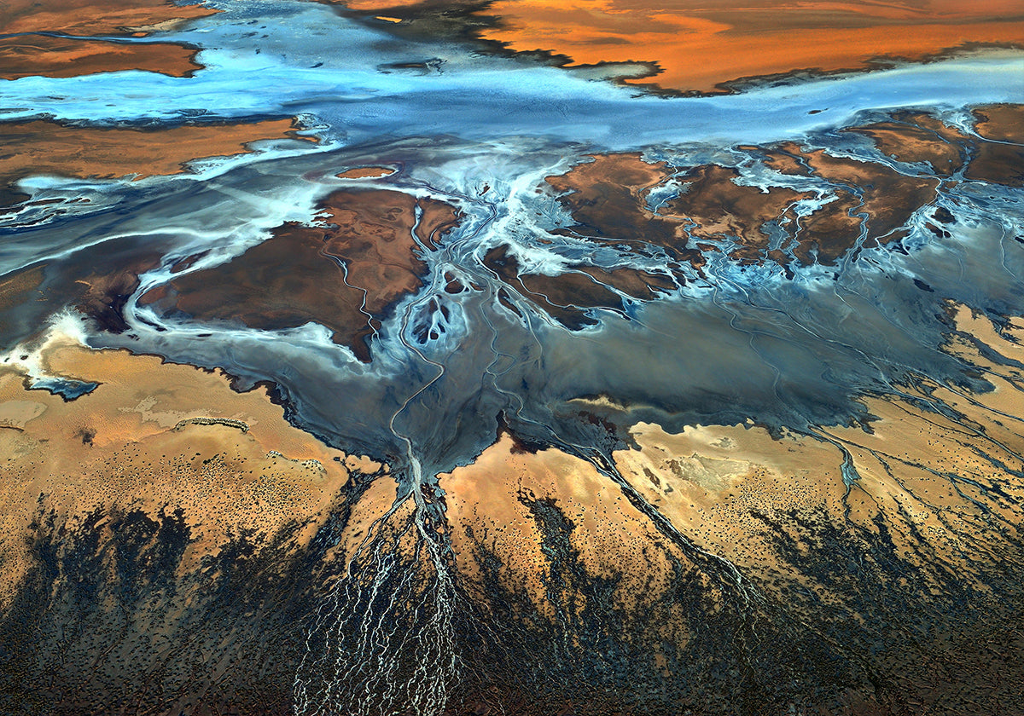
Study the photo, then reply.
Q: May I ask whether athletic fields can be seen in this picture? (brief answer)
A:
No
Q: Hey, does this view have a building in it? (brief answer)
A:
No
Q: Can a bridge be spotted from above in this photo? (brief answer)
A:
No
